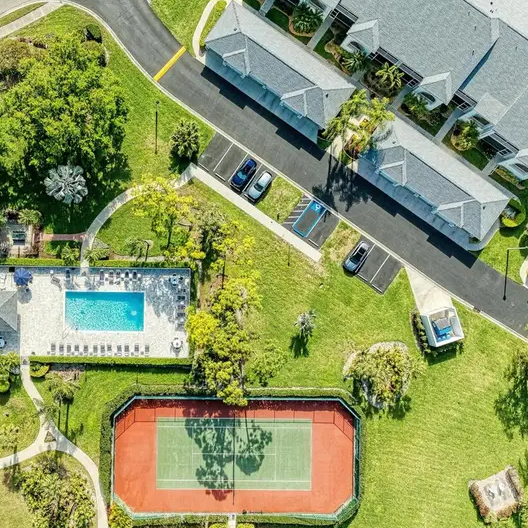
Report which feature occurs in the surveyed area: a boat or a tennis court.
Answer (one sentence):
Looking from above, you can make out a tennis court.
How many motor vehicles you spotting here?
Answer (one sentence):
The picture shows 3 motor vehicles.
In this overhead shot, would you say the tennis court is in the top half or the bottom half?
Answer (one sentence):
The tennis court is in the bottom half of the image.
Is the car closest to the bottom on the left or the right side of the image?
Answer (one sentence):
You can find the car closest to the bottom on the right side of the picture.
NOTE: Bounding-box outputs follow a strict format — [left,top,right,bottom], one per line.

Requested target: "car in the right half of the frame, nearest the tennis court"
[344,242,369,273]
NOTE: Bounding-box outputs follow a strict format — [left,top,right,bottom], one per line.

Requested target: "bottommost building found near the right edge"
[362,114,510,242]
